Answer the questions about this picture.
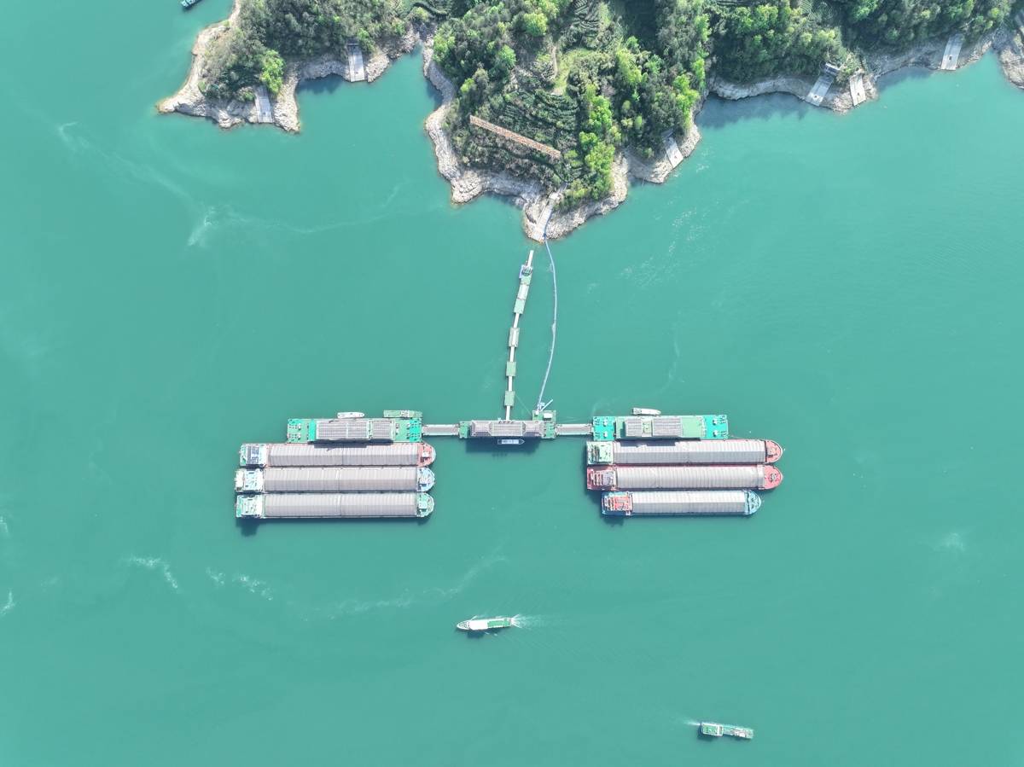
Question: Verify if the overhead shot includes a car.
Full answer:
No, the frame has no car in it.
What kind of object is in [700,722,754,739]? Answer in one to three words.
boat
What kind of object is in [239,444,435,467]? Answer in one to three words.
ship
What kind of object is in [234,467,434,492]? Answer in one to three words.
ship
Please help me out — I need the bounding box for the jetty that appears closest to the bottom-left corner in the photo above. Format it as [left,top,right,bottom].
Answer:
[287,418,422,443]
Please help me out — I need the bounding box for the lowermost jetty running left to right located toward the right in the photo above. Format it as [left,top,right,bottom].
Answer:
[593,415,729,441]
